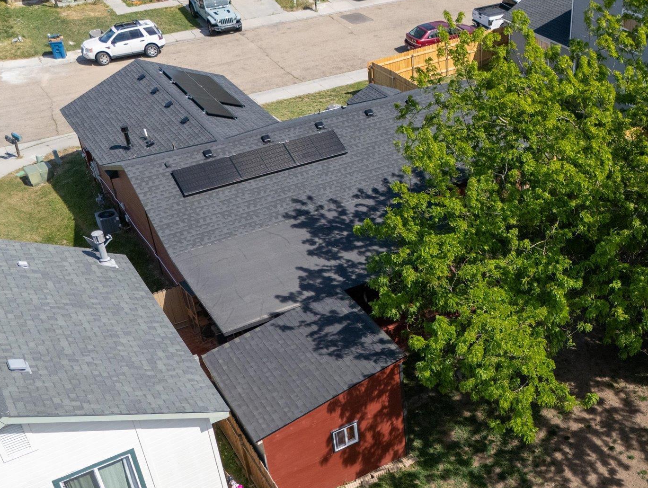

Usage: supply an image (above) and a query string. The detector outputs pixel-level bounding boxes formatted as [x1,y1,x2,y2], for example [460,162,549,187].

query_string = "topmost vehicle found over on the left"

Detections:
[189,0,237,31]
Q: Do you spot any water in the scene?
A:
No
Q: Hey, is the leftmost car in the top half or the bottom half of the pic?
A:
top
